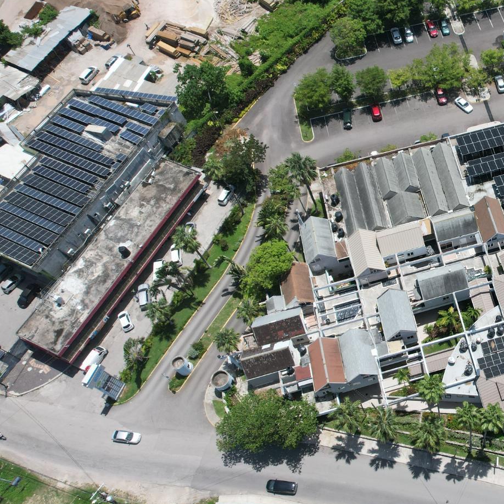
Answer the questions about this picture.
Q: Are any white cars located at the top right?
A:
Yes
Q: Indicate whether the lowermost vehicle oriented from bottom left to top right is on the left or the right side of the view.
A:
left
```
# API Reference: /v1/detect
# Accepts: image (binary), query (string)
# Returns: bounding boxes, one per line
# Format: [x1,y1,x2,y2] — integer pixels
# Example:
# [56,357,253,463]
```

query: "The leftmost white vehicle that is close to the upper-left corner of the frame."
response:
[76,63,102,85]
